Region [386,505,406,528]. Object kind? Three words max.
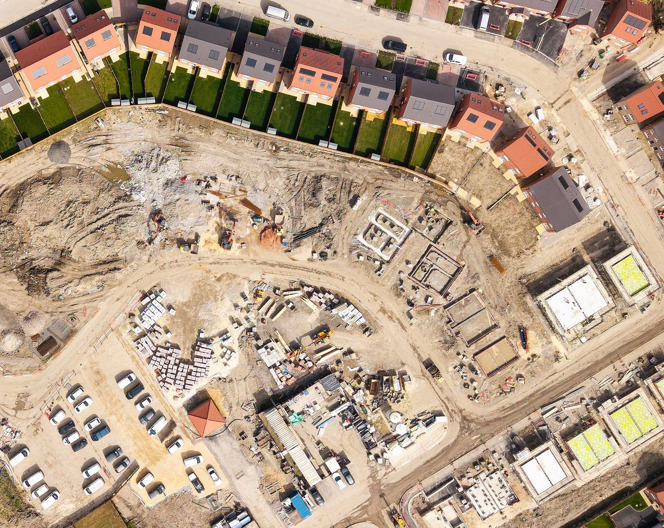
work vehicle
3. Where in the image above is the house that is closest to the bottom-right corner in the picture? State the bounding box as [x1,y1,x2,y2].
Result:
[642,472,664,517]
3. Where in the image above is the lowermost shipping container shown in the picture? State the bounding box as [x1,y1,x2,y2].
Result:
[292,457,317,488]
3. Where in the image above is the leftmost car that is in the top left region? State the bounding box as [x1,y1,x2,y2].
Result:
[9,35,21,51]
